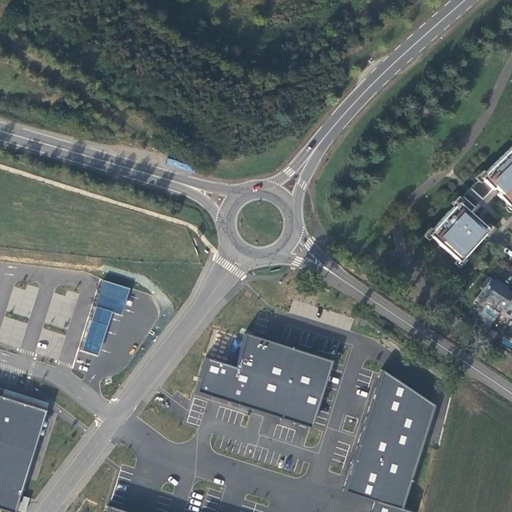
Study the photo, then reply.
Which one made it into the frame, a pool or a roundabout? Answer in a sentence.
The image shows a roundabout.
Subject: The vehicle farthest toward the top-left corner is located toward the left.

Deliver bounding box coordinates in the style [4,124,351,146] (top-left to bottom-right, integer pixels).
[166,157,194,173]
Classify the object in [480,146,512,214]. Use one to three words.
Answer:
building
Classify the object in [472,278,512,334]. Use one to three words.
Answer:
house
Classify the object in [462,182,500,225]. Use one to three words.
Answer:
building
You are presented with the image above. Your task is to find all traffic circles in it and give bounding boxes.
[203,169,316,280]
